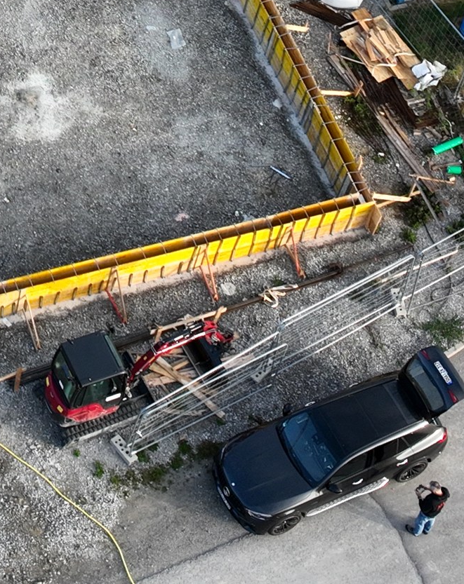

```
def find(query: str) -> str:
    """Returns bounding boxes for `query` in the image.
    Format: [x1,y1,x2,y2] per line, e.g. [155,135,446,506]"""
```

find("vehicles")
[32,316,233,452]
[211,339,464,531]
